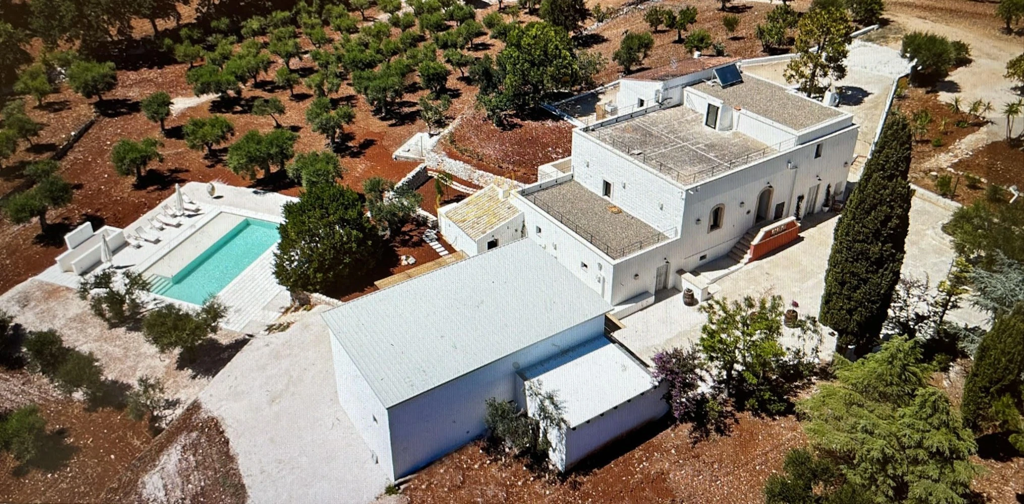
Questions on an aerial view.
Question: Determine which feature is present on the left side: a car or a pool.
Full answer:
Visible on the left side is a pool.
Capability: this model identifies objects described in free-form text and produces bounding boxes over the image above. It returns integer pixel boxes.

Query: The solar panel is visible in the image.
[706,62,742,89]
